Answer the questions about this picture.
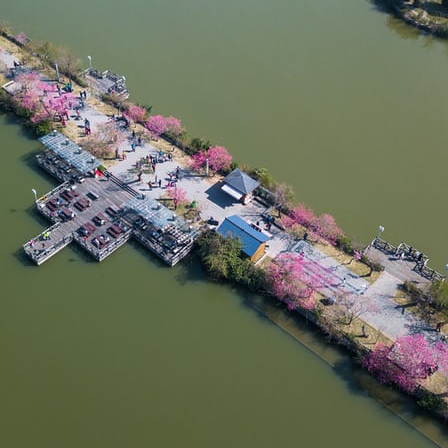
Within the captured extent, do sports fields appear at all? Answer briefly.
No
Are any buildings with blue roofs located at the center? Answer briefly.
Yes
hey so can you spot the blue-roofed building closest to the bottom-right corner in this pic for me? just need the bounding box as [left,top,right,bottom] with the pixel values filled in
[217,216,279,262]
